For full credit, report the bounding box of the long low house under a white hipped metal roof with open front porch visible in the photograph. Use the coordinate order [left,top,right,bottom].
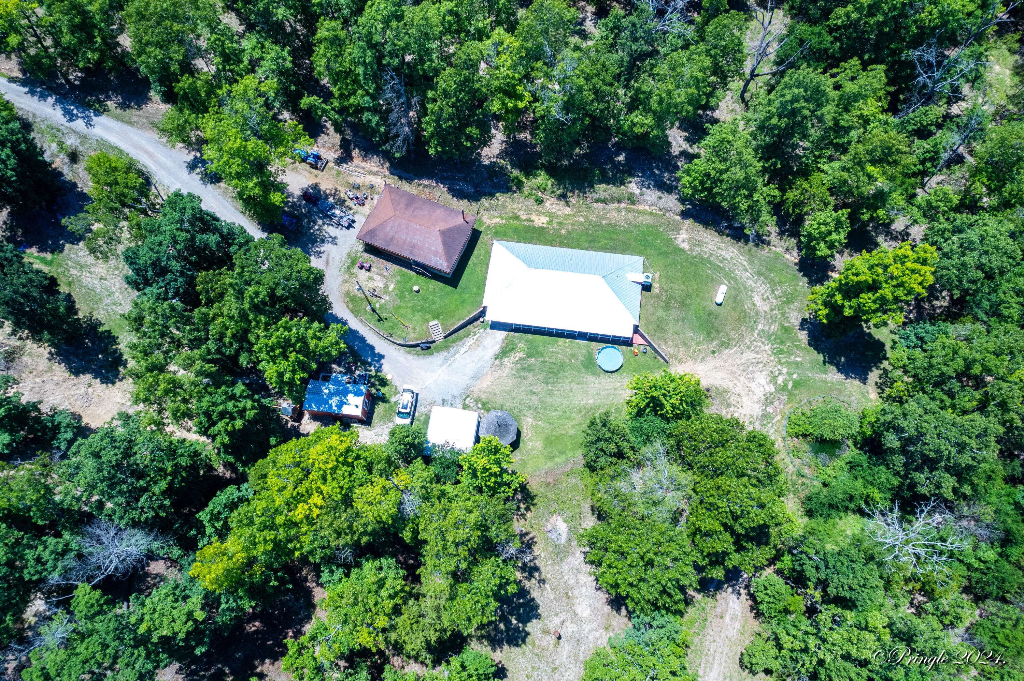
[482,240,648,347]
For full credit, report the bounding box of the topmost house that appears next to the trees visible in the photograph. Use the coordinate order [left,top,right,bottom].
[356,184,477,290]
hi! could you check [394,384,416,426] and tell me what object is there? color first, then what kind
white car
